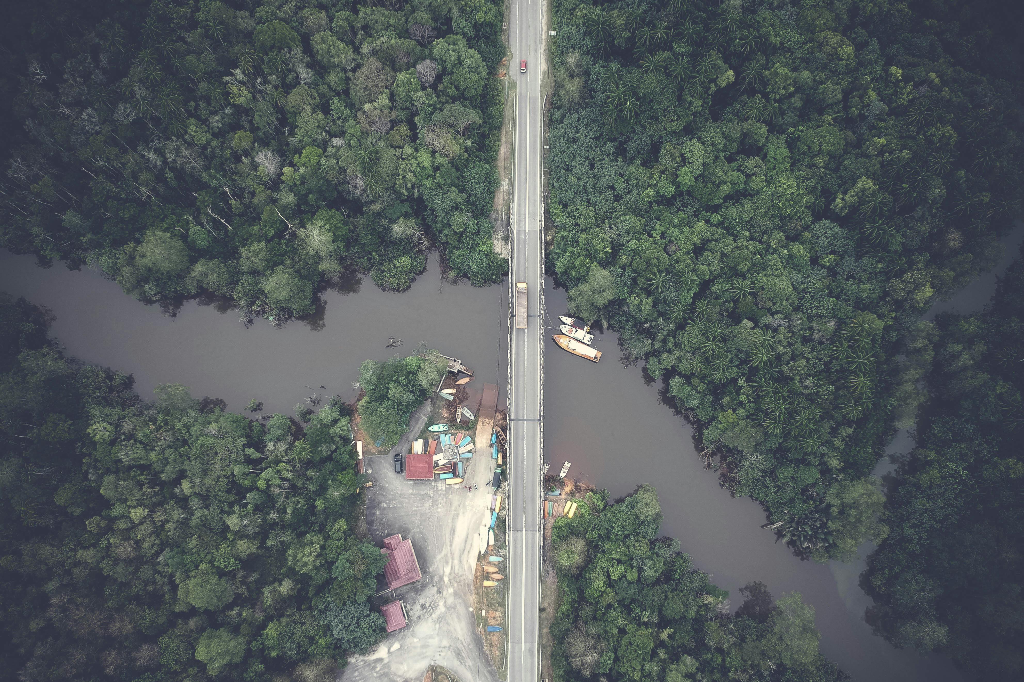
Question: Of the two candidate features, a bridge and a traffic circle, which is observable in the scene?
bridge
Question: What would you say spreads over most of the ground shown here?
trees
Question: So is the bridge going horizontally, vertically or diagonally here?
vertically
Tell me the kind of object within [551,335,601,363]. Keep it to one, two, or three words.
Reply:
boat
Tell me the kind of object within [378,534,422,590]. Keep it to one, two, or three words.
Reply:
house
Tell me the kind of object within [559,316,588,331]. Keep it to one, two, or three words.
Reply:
boat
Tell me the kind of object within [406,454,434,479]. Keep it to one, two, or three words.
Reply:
building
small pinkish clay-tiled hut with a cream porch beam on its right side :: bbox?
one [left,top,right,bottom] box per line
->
[380,600,409,633]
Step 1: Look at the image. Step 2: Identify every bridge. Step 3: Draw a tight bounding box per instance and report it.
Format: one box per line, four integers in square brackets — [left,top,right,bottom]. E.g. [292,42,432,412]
[505,204,544,545]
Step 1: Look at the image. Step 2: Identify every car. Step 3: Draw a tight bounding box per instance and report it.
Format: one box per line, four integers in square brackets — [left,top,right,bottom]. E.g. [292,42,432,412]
[395,454,403,473]
[518,60,525,72]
